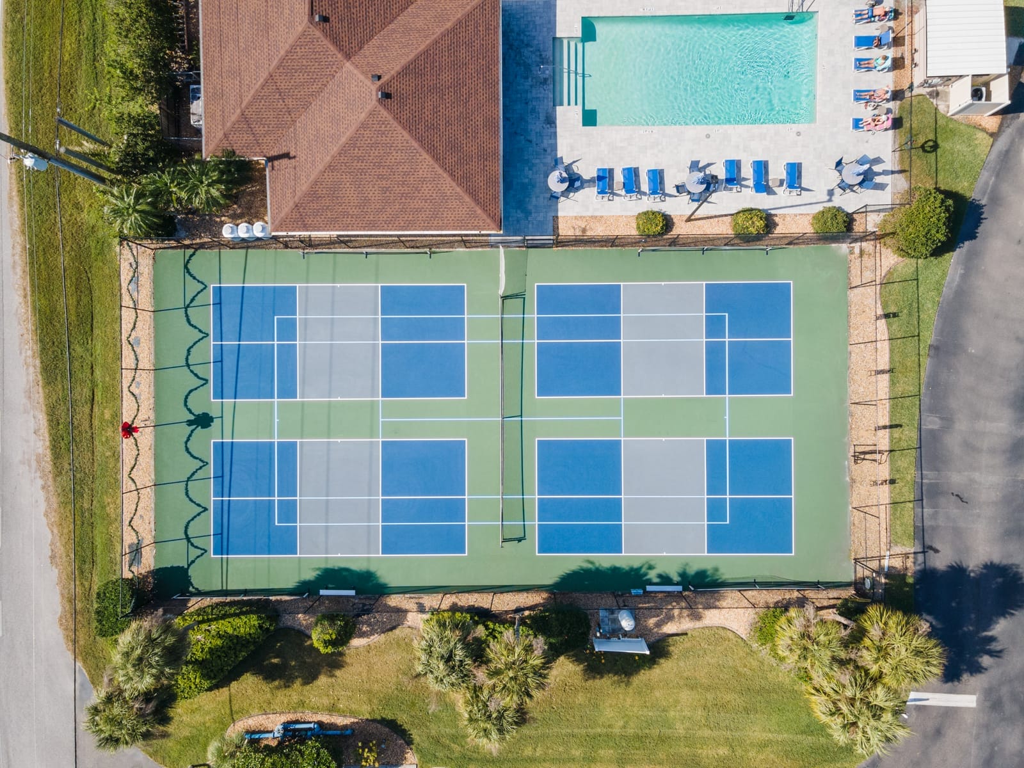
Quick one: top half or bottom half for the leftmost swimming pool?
top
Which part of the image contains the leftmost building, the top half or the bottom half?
top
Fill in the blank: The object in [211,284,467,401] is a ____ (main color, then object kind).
blue sports court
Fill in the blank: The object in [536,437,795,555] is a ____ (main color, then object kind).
blue sports court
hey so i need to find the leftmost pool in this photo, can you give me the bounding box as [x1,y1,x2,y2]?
[546,0,819,126]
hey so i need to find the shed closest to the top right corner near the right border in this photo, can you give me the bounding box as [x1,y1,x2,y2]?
[914,0,1009,88]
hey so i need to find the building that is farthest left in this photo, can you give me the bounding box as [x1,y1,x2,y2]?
[201,0,504,234]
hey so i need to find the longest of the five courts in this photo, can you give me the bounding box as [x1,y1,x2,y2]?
[152,243,855,598]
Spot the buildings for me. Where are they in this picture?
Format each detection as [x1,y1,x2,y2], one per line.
[914,0,1009,88]
[201,0,504,234]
